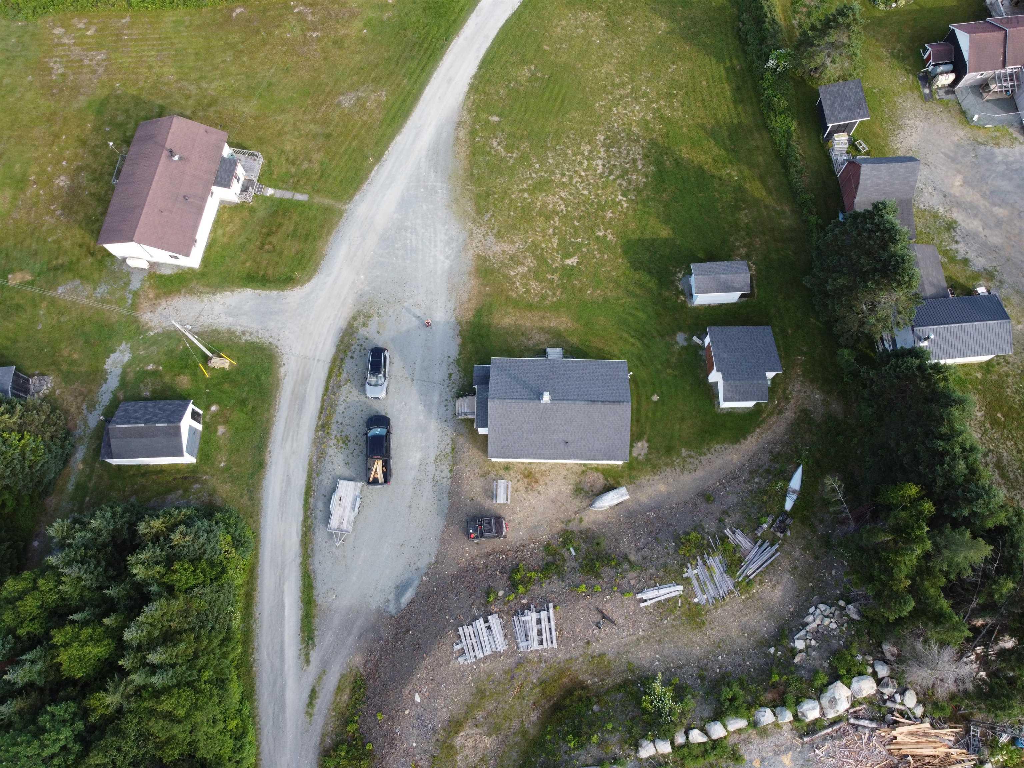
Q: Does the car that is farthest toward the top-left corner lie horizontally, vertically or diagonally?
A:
vertically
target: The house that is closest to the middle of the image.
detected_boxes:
[473,357,633,465]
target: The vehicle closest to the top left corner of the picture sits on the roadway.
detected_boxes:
[363,347,389,401]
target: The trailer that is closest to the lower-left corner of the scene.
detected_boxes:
[327,479,362,550]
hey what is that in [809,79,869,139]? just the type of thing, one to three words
shed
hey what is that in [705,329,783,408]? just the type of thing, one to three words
building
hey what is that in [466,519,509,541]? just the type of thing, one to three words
vehicle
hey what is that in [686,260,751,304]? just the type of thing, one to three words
shed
